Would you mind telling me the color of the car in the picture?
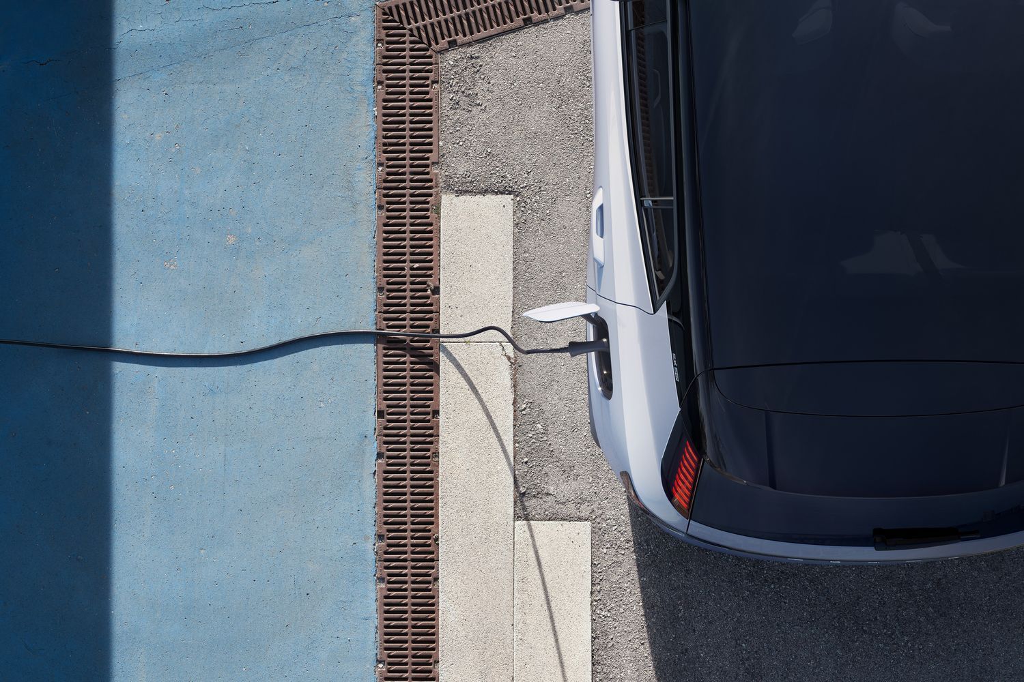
black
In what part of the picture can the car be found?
right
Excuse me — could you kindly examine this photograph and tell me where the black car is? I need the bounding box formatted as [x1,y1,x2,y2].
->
[523,0,1024,568]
